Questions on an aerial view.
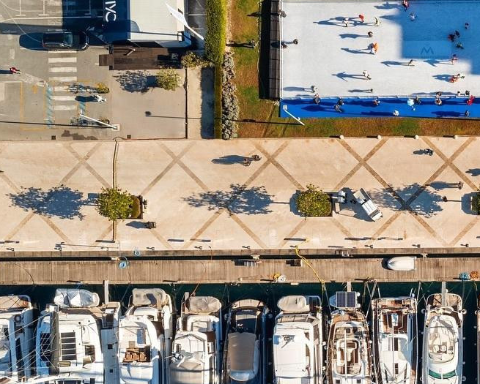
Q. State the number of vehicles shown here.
2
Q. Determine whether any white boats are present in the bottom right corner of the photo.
Yes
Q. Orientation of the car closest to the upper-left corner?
from left to right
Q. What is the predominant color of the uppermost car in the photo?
black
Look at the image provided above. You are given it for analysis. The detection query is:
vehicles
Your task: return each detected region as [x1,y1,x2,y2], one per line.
[351,189,377,220]
[37,26,87,50]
